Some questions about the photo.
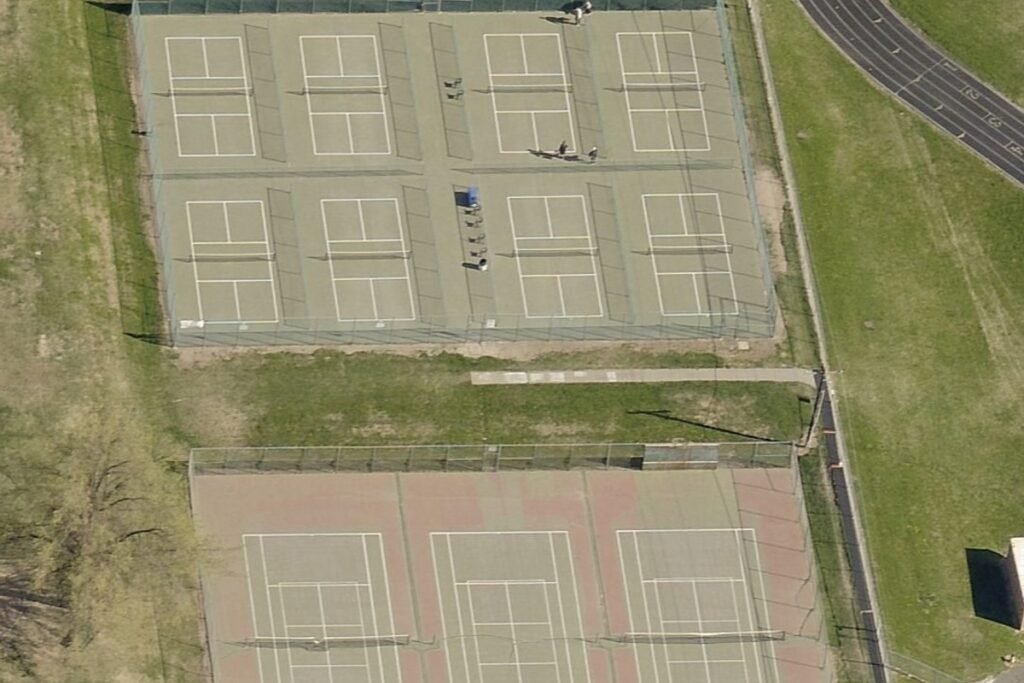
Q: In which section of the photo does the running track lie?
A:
top right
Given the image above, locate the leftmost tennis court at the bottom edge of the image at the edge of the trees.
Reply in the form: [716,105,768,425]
[242,533,402,683]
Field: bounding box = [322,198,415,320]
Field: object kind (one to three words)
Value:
sports court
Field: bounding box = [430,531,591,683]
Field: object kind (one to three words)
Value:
tennis court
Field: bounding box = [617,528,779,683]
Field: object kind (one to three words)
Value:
tennis court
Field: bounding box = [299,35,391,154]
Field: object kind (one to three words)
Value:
sports court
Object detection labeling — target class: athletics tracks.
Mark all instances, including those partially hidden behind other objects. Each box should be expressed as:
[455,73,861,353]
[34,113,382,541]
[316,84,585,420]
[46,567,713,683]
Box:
[795,0,1024,188]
